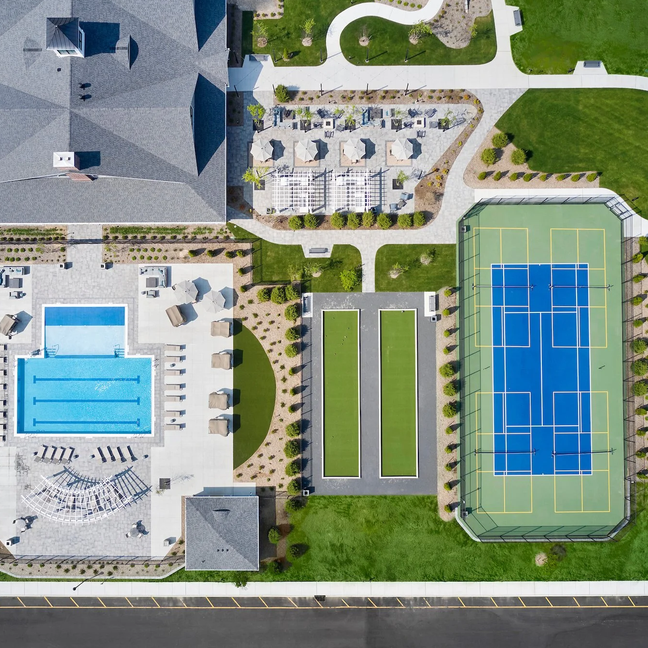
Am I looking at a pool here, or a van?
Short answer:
pool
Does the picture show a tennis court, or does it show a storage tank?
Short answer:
tennis court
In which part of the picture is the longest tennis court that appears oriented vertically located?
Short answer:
right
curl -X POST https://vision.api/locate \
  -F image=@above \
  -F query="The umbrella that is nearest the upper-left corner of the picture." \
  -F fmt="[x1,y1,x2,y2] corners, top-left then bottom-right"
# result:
[250,138,274,161]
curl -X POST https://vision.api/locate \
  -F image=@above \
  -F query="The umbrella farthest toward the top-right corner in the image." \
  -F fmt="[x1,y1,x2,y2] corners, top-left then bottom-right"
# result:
[390,137,414,159]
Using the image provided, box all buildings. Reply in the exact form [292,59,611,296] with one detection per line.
[185,494,259,571]
[0,0,233,225]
